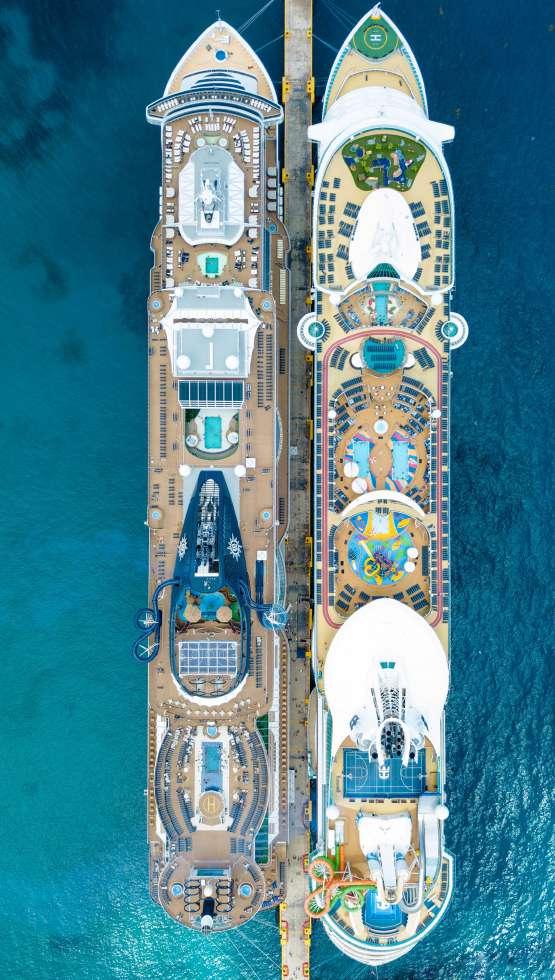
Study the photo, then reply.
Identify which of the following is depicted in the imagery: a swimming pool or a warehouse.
swimming pool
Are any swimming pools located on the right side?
Yes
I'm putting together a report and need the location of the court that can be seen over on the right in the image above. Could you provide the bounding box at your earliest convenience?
[343,748,425,793]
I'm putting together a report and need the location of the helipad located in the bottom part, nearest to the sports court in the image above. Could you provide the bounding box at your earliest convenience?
[198,791,225,817]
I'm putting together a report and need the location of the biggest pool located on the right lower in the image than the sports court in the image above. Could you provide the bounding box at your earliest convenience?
[360,890,410,931]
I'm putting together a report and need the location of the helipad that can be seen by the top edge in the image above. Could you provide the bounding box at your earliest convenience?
[345,14,405,60]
